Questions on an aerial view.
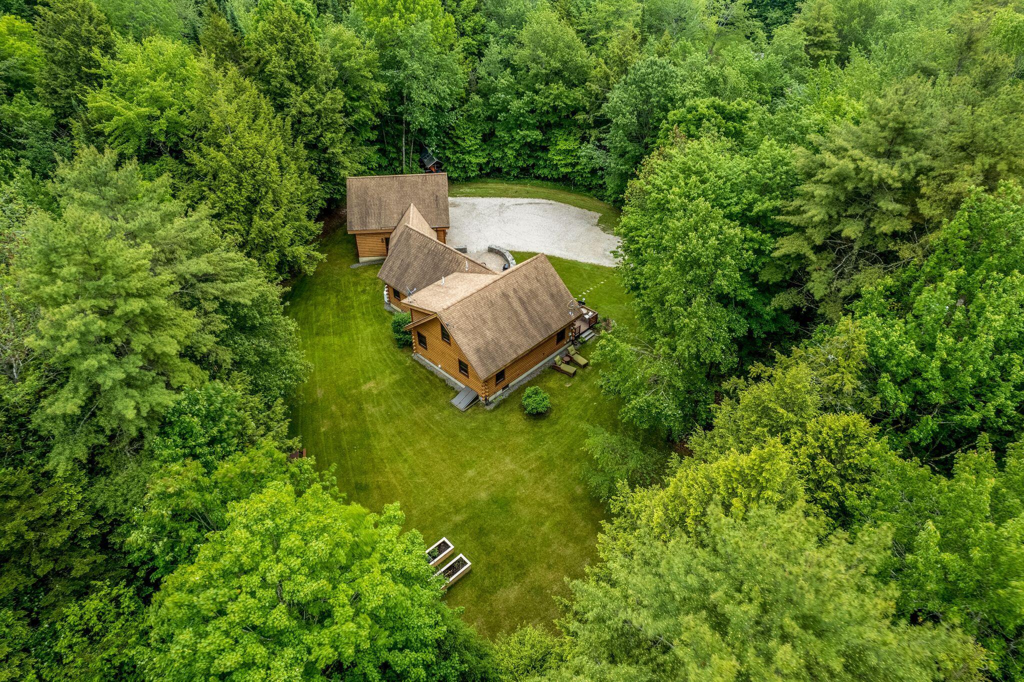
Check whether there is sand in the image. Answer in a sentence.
No, the scene doesn't show any sand.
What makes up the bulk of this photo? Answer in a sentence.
The scene is dominated by trees.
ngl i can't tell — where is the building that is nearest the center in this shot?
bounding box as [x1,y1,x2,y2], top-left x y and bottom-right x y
[378,203,583,402]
